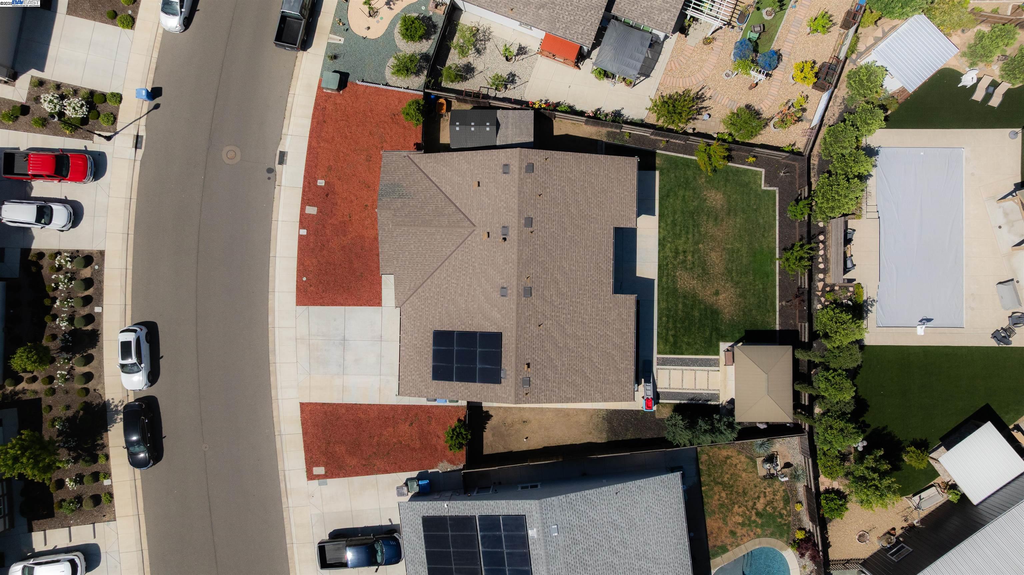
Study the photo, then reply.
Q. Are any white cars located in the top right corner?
No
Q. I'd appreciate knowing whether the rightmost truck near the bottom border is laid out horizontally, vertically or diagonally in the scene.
horizontally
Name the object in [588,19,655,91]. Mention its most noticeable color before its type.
gray gazebo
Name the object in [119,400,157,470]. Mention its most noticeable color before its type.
black car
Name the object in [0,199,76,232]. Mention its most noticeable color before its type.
white car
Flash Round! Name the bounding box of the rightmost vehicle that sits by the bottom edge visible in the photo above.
[316,533,403,573]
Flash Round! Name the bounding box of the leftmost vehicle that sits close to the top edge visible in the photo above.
[157,0,192,35]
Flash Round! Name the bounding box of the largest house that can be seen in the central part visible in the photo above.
[378,149,640,404]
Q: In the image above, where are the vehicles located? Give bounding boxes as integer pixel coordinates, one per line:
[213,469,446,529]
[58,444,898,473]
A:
[157,0,192,35]
[316,533,403,573]
[119,400,157,470]
[0,199,76,232]
[113,325,151,392]
[0,147,96,183]
[274,0,315,56]
[8,552,90,575]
